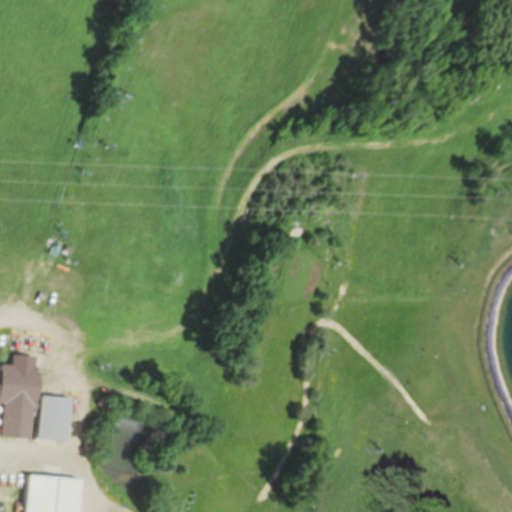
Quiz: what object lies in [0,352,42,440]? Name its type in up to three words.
house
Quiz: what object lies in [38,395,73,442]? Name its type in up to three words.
shed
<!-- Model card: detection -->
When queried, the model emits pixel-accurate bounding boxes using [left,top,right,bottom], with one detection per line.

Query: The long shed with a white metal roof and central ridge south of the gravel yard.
[26,474,84,512]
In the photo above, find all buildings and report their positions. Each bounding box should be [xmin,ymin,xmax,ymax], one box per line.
[38,395,73,442]
[26,474,84,512]
[0,352,42,440]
